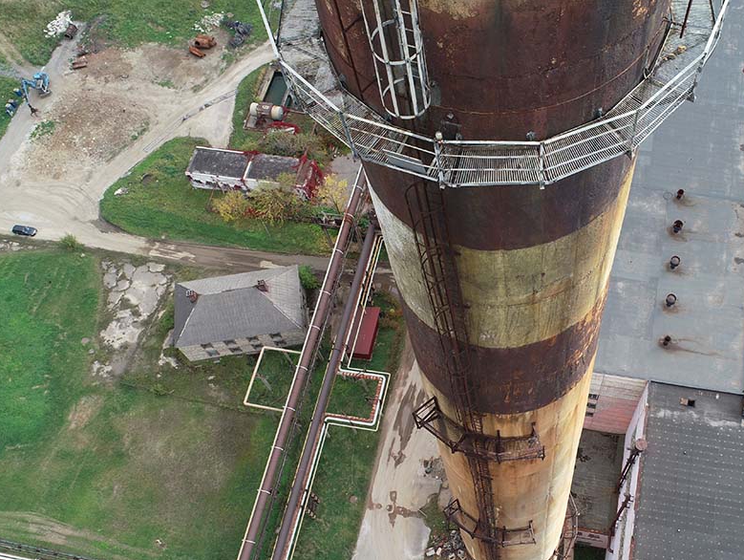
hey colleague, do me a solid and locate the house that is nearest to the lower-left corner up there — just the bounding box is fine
[173,267,309,357]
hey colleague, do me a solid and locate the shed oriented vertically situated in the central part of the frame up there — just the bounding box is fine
[350,306,382,365]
